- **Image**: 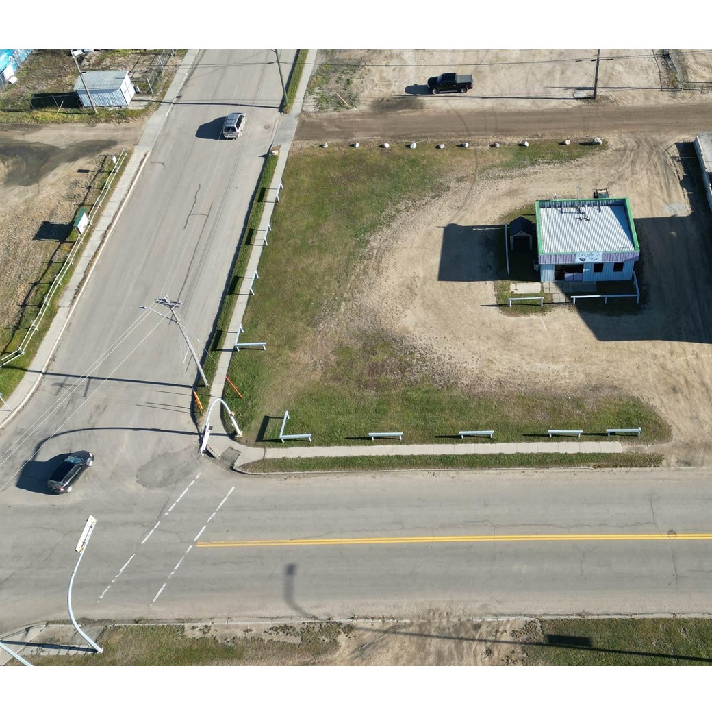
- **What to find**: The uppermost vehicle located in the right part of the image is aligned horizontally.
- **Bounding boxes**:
[427,73,475,94]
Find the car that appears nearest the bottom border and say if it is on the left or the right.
left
